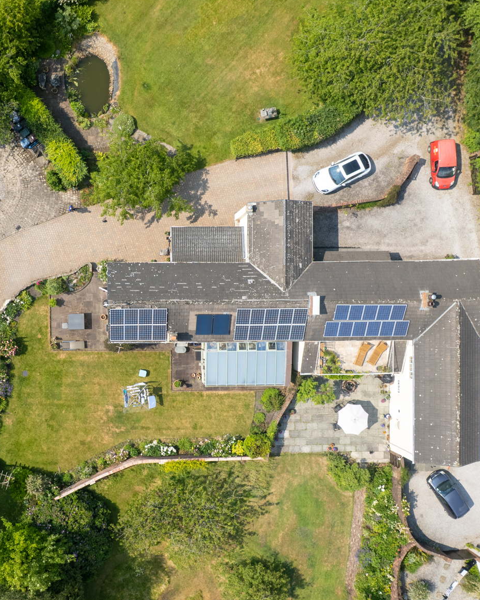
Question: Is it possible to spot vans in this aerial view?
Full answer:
Yes, looking at the shot, I can spot a van.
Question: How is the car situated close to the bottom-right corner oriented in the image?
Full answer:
In this picture, the car situated close to the bottom-right corner is oriented diagonally.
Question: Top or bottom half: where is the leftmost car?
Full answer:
You can find the leftmost car in the top half.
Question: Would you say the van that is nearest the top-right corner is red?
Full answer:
Yes, the van that is nearest the top-right corner appears red.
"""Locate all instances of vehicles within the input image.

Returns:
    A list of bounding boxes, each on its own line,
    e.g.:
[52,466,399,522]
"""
[423,465,473,521]
[311,151,373,197]
[426,136,460,194]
